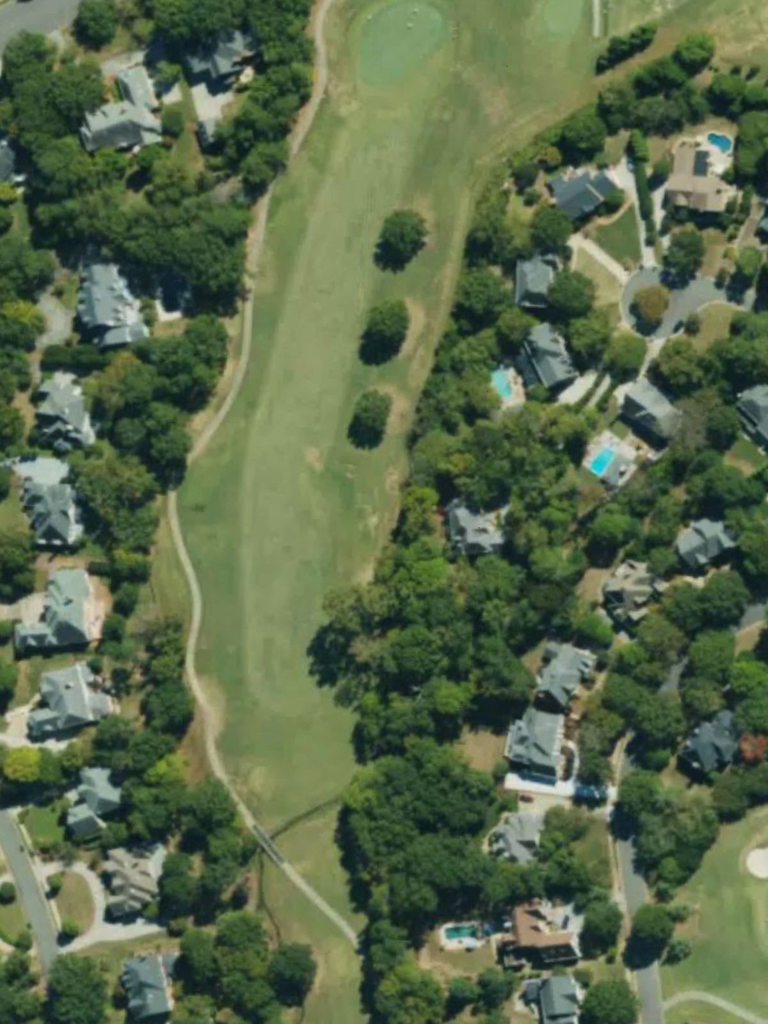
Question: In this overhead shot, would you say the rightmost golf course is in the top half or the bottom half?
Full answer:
The bottom half of the photo is where the rightmost golf course is.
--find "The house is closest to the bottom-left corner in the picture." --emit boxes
[121,949,180,1022]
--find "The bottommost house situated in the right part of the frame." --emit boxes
[519,971,585,1024]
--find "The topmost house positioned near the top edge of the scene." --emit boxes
[185,35,256,89]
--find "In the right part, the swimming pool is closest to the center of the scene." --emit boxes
[492,368,512,400]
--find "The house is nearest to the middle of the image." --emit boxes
[445,502,511,558]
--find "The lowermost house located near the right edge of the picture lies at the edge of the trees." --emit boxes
[684,708,739,775]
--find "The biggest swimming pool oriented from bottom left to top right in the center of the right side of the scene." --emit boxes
[588,444,617,477]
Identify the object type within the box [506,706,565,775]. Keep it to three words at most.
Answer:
house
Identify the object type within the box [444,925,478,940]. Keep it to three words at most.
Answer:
swimming pool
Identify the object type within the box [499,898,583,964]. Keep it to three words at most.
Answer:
house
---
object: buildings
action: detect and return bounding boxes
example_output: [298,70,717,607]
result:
[24,661,121,731]
[78,259,150,347]
[80,63,169,149]
[506,706,565,775]
[121,949,180,1022]
[542,162,623,221]
[23,480,85,544]
[664,141,730,215]
[605,559,668,623]
[499,898,583,964]
[613,376,680,450]
[537,640,597,713]
[684,708,739,775]
[514,254,563,308]
[12,567,94,654]
[185,35,256,89]
[38,378,95,455]
[495,805,545,865]
[673,514,735,567]
[519,971,585,1024]
[734,377,768,456]
[101,839,167,918]
[519,315,579,391]
[445,502,511,558]
[196,119,221,147]
[61,764,127,837]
